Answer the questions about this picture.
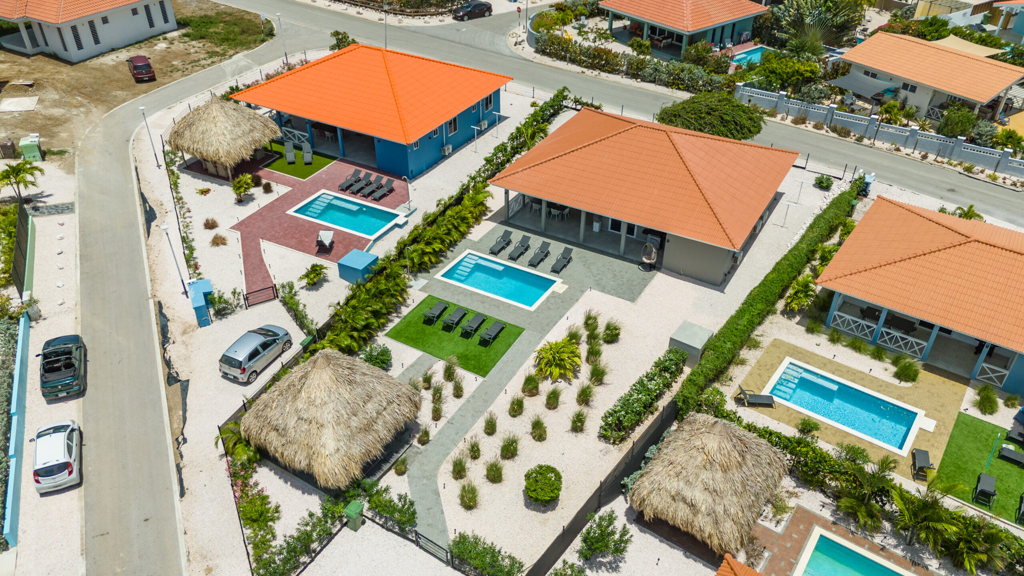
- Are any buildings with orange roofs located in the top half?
Yes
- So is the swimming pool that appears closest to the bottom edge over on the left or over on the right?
right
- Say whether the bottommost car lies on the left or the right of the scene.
left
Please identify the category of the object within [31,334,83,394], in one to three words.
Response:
car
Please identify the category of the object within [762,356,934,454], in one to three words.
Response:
swimming pool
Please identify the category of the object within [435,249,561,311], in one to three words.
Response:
swimming pool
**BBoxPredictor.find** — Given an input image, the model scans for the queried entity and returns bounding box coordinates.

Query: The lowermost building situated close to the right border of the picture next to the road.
[814,194,1024,401]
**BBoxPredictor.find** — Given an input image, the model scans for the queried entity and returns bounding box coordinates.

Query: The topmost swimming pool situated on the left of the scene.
[286,189,413,246]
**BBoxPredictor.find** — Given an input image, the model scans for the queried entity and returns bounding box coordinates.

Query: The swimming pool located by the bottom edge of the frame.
[785,524,912,576]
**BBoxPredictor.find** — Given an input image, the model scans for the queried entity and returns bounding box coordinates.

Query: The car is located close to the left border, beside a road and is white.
[25,420,80,486]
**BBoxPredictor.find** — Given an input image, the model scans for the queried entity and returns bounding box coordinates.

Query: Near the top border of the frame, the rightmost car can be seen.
[453,1,492,19]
